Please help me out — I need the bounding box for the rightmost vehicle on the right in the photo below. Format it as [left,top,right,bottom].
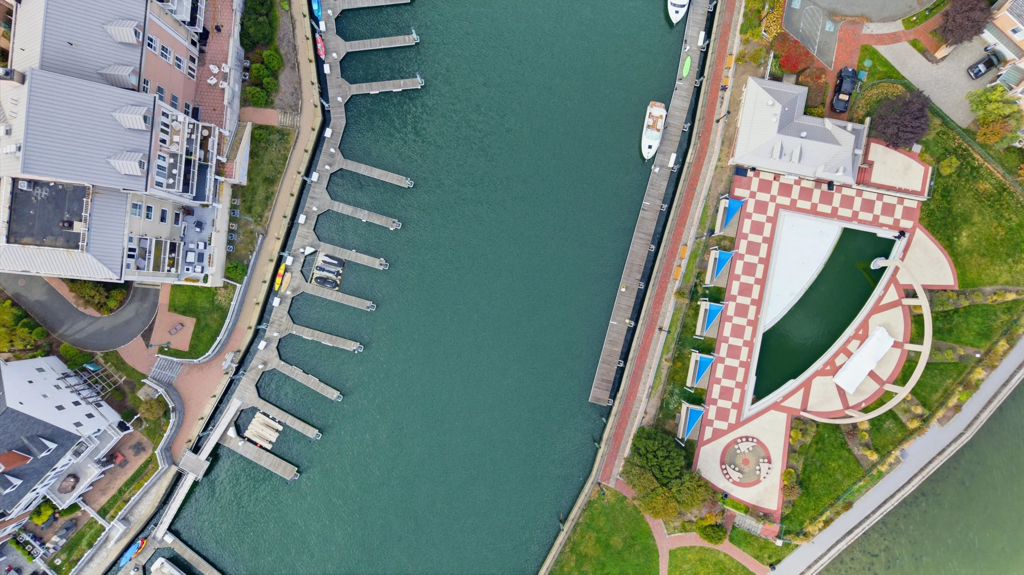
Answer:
[967,48,1005,82]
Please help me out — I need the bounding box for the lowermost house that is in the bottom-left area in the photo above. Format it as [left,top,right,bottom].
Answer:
[0,356,137,555]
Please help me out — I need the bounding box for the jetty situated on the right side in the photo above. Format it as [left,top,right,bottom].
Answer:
[588,0,708,406]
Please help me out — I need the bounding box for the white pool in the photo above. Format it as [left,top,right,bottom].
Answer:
[739,207,910,423]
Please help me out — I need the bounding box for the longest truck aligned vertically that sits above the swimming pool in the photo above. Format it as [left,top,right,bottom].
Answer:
[832,64,859,114]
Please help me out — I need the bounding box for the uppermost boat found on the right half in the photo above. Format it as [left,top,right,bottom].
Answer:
[669,0,693,28]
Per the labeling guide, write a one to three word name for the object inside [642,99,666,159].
boat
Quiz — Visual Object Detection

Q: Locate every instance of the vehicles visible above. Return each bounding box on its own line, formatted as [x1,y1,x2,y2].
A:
[832,64,859,114]
[967,48,1005,82]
